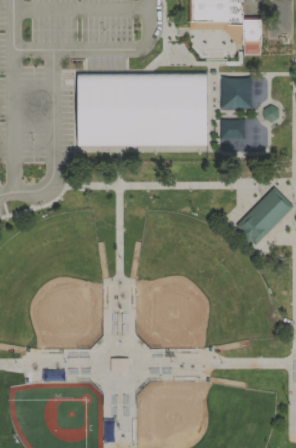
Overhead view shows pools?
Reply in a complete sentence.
No, the frame has no pool in it.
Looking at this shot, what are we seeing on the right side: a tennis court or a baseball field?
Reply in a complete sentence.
The one visible on the right side is a baseball field.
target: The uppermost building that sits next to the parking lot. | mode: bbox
[190,0,262,56]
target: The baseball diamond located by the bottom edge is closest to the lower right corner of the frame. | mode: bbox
[138,378,278,448]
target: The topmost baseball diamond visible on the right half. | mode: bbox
[132,210,276,350]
